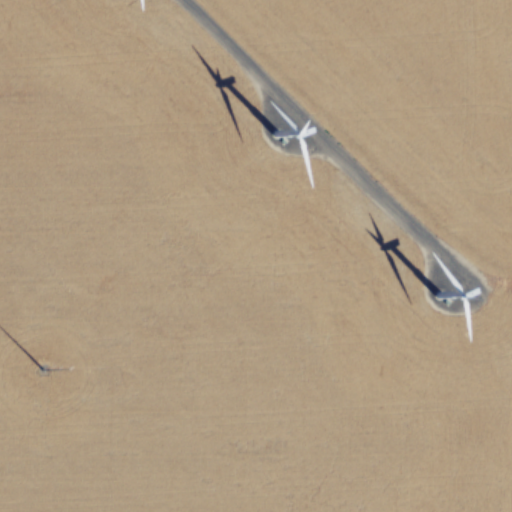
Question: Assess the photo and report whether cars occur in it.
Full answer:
No, there appears to be no car in this shot.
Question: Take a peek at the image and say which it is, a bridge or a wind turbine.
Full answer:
It is a wind turbine that can be seen here.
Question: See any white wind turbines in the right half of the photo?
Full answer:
Yes, a white wind turbine is visible in the right half of the photo.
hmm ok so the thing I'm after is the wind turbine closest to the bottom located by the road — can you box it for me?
[434,252,482,340]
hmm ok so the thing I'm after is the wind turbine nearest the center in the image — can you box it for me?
[270,100,318,188]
